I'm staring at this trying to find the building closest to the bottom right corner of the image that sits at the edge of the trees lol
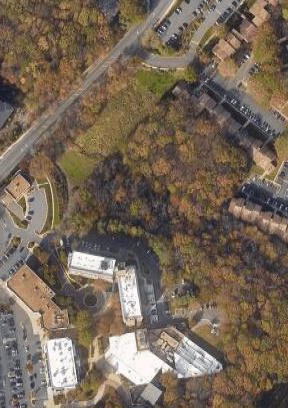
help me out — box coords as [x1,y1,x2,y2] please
[173,338,222,382]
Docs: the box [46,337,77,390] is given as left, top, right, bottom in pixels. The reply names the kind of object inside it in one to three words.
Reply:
building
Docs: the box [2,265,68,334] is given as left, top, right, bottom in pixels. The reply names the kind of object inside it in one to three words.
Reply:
building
